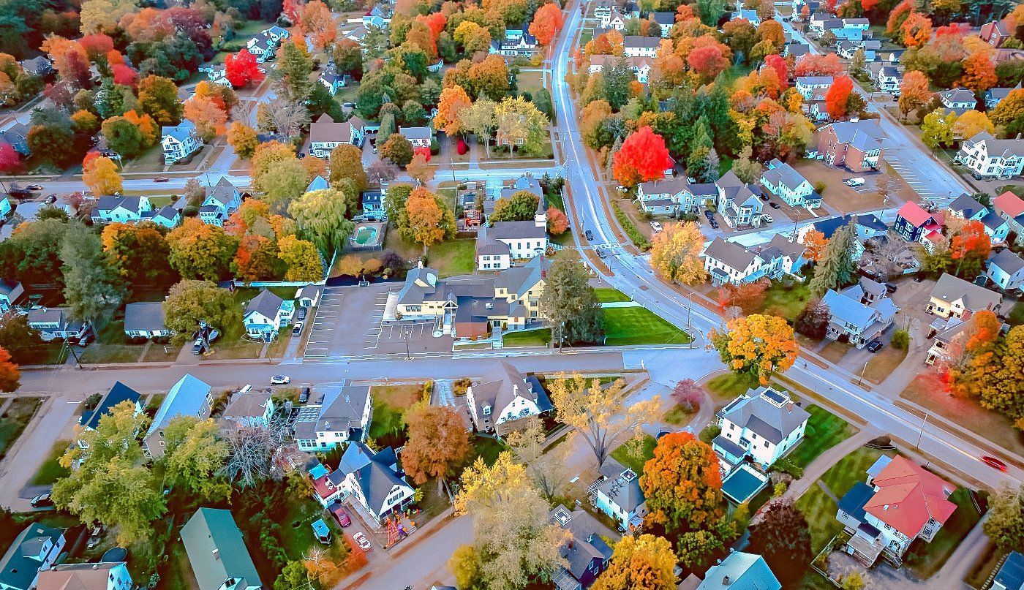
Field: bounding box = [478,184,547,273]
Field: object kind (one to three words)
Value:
building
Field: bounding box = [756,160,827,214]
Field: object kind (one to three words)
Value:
house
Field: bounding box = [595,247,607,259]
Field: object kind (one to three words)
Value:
vehicle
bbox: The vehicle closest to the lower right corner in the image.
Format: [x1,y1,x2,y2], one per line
[980,455,1008,473]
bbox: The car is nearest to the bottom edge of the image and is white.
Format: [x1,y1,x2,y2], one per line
[352,531,373,552]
